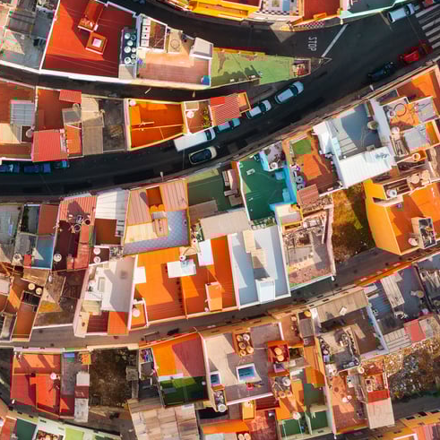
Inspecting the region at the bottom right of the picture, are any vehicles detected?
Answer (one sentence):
No, no vehicle can be made out at the bottom right of the picture.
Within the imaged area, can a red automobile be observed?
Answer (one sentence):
Yes, you can see a red automobile in this photo.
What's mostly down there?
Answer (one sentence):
For the most part, this view shows buildings.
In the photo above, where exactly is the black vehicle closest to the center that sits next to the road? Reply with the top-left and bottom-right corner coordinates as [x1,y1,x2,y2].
[187,147,217,165]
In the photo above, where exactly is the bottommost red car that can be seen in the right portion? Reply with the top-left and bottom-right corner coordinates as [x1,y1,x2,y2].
[401,45,428,64]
